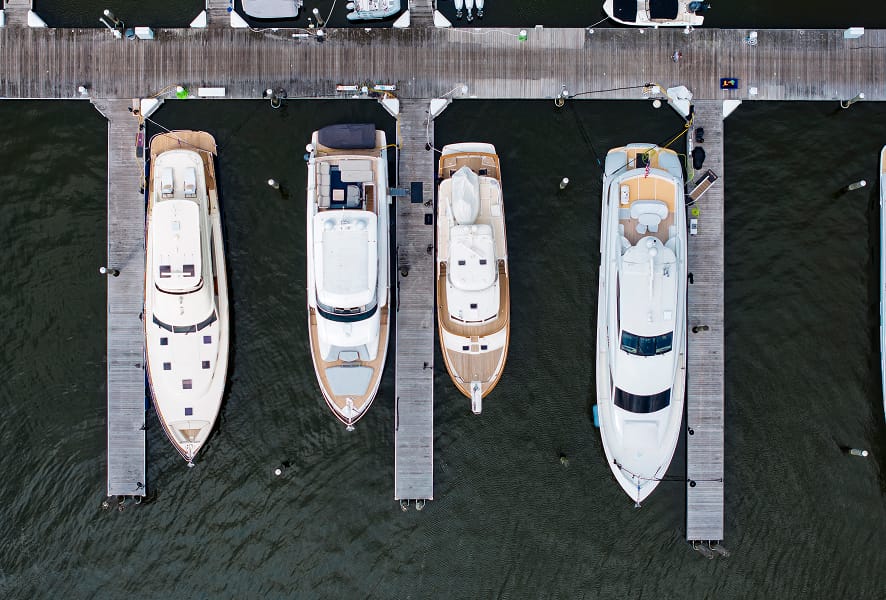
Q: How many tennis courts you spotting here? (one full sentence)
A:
I count no tennis courts.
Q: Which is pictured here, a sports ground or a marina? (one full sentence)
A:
The area seen from above is a marina.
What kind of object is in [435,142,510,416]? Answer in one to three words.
boat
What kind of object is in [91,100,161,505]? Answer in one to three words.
pier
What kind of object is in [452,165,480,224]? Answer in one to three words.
boat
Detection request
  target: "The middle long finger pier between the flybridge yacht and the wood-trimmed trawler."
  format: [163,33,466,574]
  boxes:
[379,100,449,508]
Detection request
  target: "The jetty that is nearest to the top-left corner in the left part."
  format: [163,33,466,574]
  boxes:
[4,0,33,27]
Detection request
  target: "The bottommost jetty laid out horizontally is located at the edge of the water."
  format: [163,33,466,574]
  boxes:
[0,19,886,108]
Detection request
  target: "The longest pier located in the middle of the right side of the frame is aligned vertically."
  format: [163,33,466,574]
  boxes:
[667,100,742,550]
